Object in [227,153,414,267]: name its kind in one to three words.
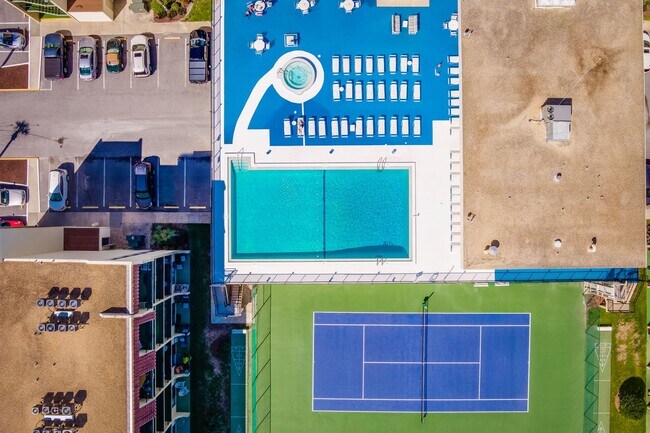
swimming pool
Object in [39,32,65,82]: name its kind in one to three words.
truck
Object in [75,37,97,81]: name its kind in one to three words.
car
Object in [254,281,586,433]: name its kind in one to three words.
tennis court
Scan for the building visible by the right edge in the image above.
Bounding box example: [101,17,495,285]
[458,0,646,270]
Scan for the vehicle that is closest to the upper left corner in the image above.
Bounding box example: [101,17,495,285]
[0,27,22,49]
